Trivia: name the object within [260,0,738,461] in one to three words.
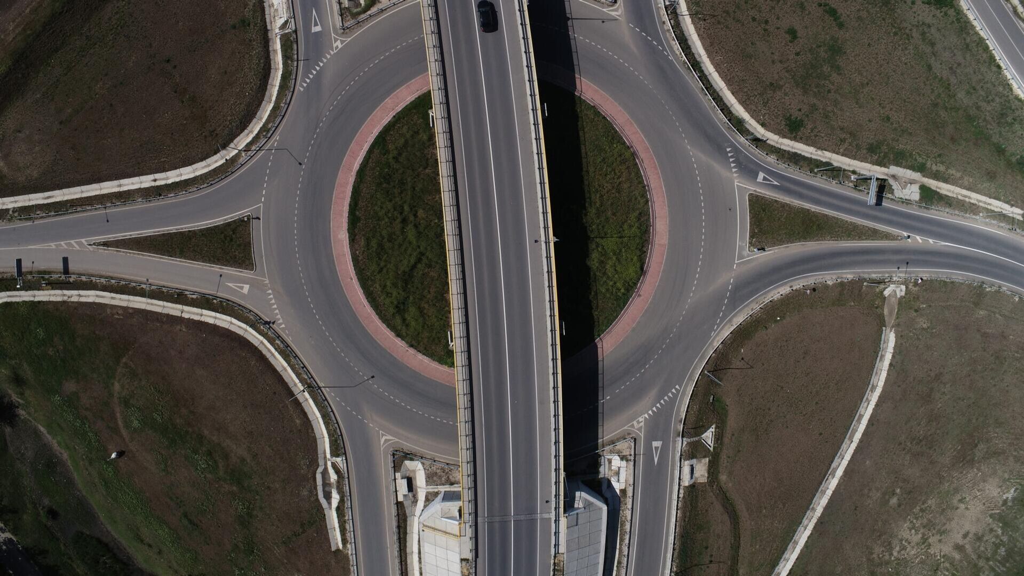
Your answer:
roundabout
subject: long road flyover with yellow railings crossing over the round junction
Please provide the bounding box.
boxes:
[417,0,606,576]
